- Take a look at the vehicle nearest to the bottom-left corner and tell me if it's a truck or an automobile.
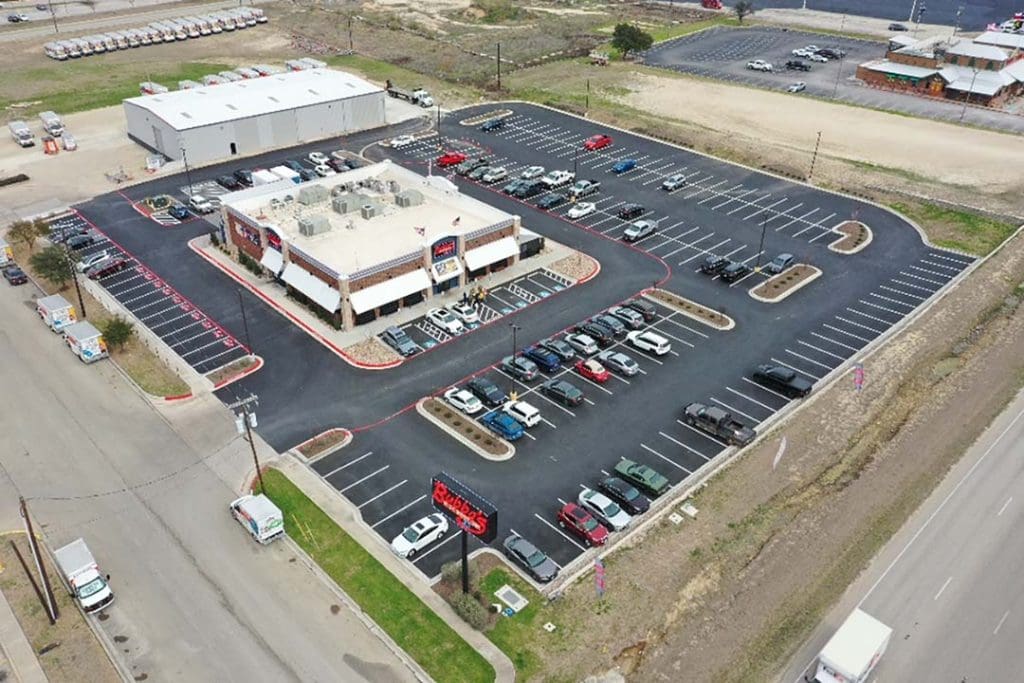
truck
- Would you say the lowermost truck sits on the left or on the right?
right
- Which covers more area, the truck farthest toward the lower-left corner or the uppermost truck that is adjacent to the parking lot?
the truck farthest toward the lower-left corner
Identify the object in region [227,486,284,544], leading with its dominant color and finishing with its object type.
white truck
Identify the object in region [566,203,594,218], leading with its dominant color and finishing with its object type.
white car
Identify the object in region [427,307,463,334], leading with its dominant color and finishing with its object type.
white car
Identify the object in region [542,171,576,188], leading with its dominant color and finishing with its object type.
white vehicle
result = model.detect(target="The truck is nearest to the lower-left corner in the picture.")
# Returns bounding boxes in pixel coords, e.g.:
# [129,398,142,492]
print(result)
[55,531,123,615]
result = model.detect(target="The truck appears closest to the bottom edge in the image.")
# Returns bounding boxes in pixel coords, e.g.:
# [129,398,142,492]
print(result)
[810,606,897,683]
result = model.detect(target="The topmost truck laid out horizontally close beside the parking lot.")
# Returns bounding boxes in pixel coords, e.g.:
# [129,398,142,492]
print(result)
[386,76,426,100]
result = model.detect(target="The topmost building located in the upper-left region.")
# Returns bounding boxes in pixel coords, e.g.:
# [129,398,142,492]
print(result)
[119,68,388,168]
